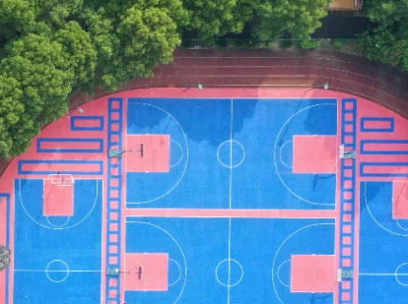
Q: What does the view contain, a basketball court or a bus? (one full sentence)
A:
There is a basketball court in the scene.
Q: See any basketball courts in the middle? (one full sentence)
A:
Yes, the scene does show a basketball court in the middle.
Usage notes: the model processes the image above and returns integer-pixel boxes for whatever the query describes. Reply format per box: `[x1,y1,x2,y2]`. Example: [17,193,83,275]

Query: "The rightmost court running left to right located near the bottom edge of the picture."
[124,217,335,304]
